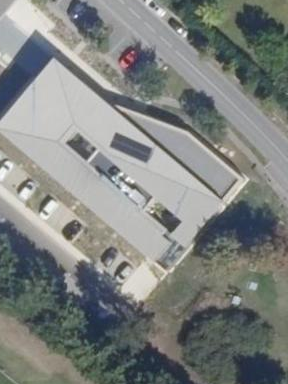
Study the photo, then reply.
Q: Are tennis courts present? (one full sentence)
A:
No, there appears to be no tennis court in this shot.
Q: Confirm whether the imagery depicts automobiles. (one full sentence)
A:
Yes, an automobile appears in the view.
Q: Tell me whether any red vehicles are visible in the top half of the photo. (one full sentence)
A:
Yes, a red vehicle shows up in the top half of the photo.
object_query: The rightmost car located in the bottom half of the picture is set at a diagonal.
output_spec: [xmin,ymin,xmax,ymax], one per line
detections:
[114,258,132,279]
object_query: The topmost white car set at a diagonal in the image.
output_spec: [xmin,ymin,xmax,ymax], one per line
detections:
[144,0,164,16]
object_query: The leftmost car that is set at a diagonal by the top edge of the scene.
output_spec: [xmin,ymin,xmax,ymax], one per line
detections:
[66,0,86,22]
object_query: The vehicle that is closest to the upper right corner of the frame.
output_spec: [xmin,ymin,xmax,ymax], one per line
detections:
[168,16,188,38]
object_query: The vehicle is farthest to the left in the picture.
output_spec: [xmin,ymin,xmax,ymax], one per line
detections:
[0,159,13,180]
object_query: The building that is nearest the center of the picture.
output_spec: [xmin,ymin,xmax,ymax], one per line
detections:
[0,58,250,274]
